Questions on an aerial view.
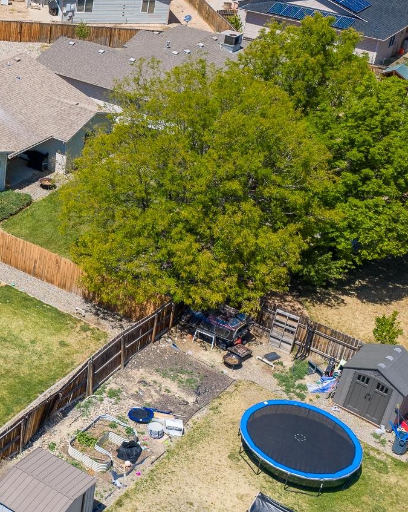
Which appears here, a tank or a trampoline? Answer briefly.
trampoline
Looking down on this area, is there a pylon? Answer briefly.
No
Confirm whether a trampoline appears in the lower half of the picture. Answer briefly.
Yes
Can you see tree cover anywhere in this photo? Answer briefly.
Yes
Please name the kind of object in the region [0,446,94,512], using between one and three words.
shed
